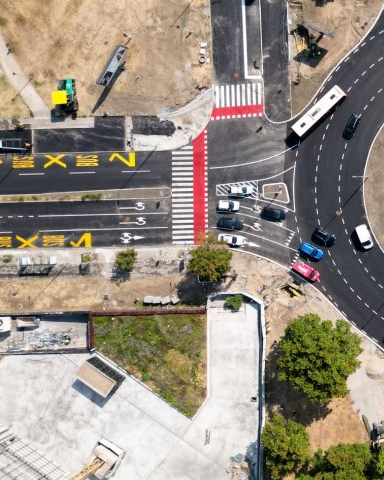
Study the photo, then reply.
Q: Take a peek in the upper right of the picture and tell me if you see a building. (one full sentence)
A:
No, the scene shows no building in the upper right of the picture.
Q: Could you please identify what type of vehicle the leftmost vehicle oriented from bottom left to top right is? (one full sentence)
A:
I'd identify the leftmost vehicle oriented from bottom left to top right as a bus.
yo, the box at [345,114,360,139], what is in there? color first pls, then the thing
black car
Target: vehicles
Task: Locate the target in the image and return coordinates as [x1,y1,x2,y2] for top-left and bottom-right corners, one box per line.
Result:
[292,85,349,138]
[345,114,360,139]
[262,207,288,221]
[293,262,319,281]
[218,201,241,212]
[219,218,244,229]
[299,241,323,260]
[220,234,246,246]
[311,227,335,246]
[0,140,26,150]
[230,185,255,195]
[356,224,373,250]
